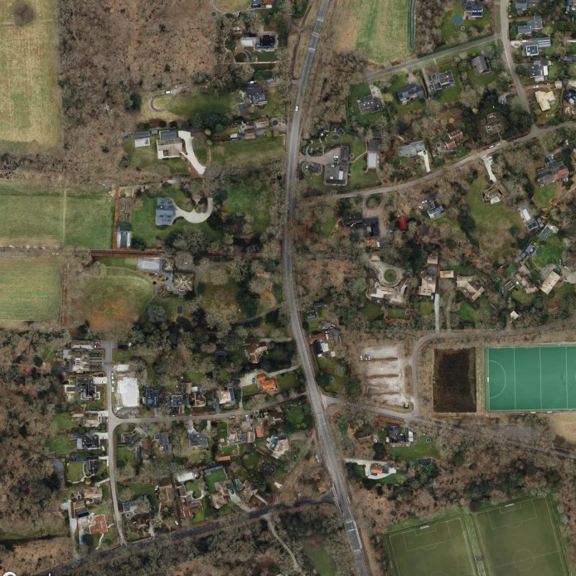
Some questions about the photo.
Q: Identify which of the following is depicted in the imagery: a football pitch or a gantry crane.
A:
football pitch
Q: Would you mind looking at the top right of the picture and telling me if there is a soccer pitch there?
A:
No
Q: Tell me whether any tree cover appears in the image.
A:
Yes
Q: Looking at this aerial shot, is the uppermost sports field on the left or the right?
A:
right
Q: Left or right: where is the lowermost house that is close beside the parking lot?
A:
right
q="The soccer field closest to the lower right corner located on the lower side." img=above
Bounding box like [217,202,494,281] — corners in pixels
[466,484,571,576]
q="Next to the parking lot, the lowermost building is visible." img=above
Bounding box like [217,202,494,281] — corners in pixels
[387,426,413,447]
